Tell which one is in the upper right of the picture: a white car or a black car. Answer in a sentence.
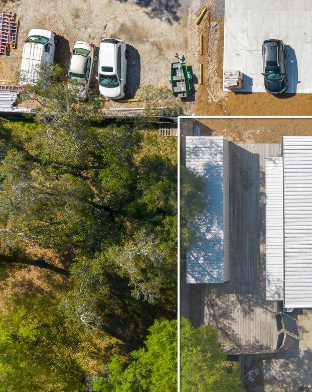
You can see a black car in the upper right of the picture.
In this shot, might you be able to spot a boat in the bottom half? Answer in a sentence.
No, no boat is visible in the bottom half.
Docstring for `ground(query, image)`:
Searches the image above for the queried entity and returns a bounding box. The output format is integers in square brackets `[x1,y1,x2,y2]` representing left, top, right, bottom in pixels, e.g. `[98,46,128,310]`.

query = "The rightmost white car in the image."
[95,40,128,101]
